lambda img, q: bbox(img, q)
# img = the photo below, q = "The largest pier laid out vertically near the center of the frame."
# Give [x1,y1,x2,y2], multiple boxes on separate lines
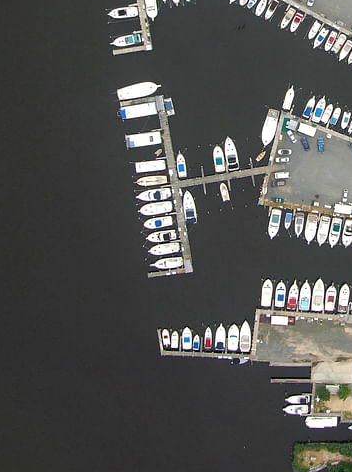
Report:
[160,104,192,273]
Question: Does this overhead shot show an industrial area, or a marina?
marina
